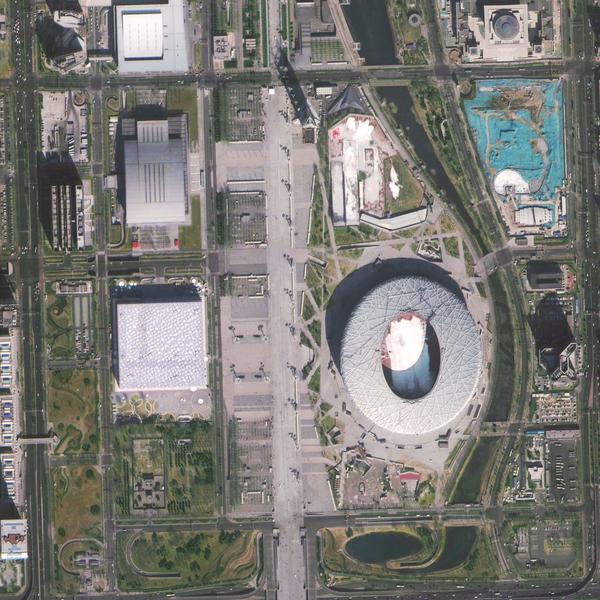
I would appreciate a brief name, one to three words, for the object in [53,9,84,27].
building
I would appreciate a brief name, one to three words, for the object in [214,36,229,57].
building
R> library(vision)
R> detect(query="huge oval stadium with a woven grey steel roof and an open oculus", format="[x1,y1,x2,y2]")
[341,274,481,435]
